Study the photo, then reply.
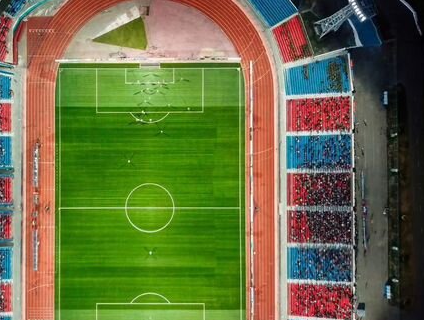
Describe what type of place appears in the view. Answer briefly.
sports ground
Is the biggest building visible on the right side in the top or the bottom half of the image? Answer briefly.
top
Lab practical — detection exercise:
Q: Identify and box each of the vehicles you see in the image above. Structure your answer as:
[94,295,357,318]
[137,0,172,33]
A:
[380,90,388,106]
[382,283,390,298]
